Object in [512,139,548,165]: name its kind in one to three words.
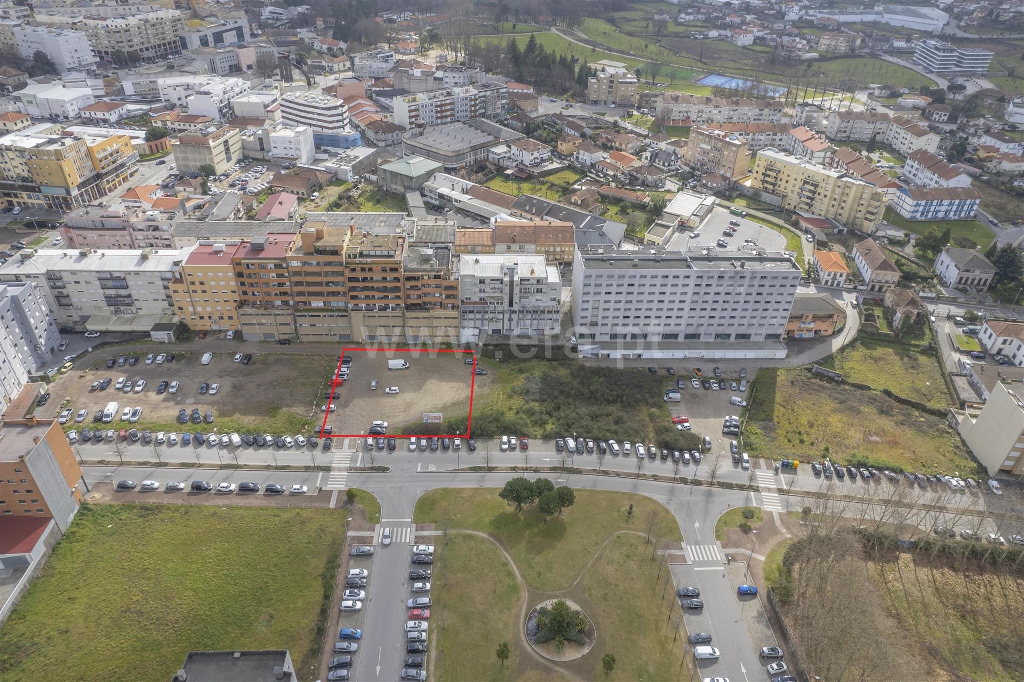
house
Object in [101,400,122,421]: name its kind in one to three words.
vehicle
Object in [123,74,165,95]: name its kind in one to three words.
building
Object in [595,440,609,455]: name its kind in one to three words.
car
